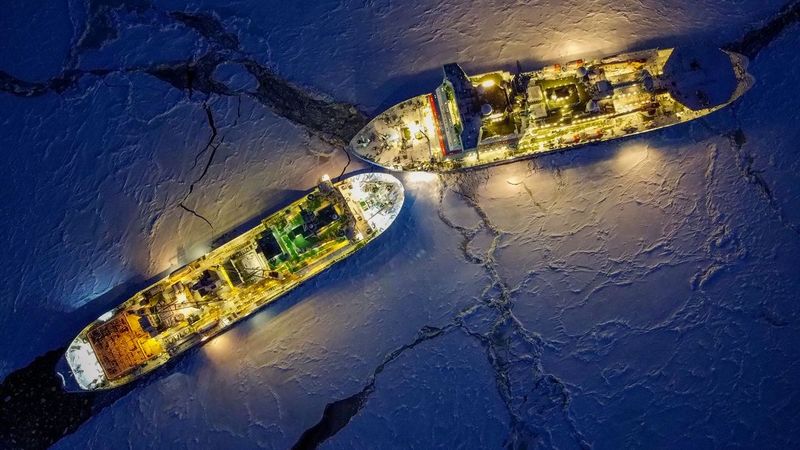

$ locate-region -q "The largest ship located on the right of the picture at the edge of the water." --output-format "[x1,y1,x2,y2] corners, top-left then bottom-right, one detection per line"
[348,45,756,176]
